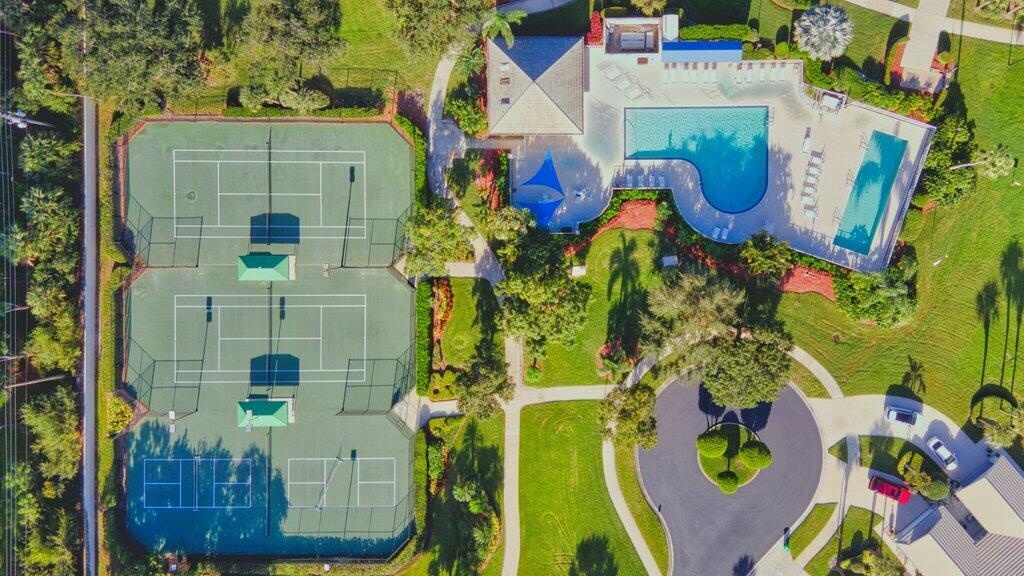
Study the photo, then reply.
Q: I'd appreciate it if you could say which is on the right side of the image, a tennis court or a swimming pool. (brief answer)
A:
swimming pool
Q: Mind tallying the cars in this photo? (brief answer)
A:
3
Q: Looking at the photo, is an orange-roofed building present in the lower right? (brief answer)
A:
No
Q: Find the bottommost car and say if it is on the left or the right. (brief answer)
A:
right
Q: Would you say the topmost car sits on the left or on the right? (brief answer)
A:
right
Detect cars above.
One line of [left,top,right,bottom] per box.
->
[866,476,911,503]
[883,406,923,428]
[925,435,962,472]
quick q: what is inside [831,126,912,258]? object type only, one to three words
swimming pool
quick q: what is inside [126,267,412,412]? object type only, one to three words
tennis court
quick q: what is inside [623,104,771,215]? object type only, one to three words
swimming pool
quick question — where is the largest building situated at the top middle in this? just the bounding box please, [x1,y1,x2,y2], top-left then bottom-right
[487,36,584,137]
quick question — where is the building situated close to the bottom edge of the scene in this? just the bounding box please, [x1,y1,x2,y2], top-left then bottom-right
[892,456,1024,576]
